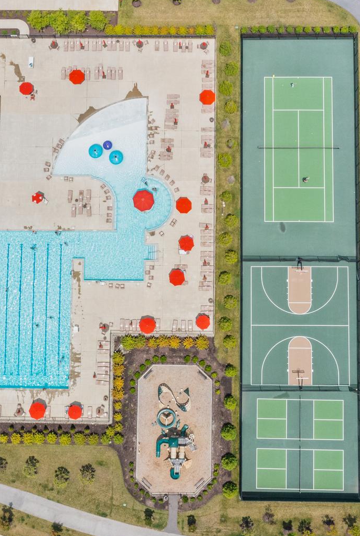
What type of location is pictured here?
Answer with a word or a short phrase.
sports ground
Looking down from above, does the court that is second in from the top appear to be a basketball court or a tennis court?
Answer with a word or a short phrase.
basketball court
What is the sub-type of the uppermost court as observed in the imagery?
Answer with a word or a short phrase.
tennis court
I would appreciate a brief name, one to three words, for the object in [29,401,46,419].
umbrella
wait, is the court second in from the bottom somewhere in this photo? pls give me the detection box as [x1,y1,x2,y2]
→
[241,391,359,445]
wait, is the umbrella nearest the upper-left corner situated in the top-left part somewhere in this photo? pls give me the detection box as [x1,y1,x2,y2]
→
[20,82,34,96]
